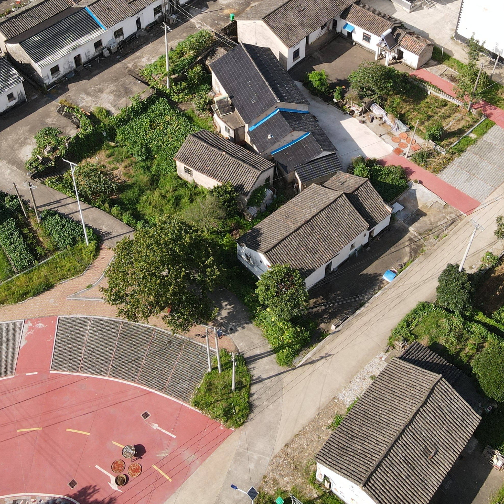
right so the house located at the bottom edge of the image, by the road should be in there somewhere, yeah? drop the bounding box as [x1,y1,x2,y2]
[315,359,482,504]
